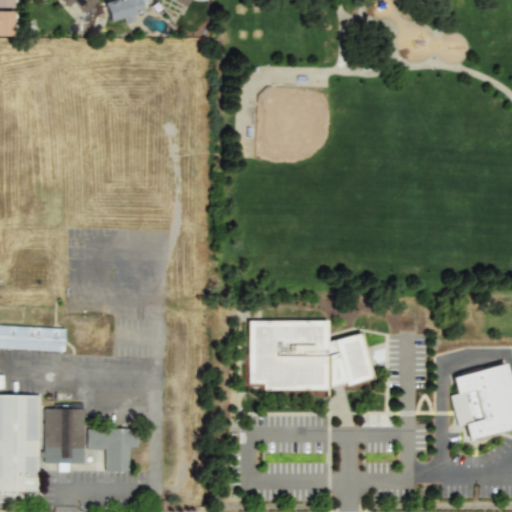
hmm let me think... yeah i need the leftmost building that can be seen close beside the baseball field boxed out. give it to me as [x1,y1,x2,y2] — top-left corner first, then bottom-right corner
[246,320,331,394]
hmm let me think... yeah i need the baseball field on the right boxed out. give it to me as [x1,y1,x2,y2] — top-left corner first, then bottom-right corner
[238,71,512,288]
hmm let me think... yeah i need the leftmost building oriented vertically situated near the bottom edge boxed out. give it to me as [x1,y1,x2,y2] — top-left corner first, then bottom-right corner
[0,395,40,493]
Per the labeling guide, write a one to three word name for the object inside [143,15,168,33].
swimming pool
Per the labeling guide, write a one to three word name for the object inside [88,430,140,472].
building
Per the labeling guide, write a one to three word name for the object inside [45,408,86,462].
building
